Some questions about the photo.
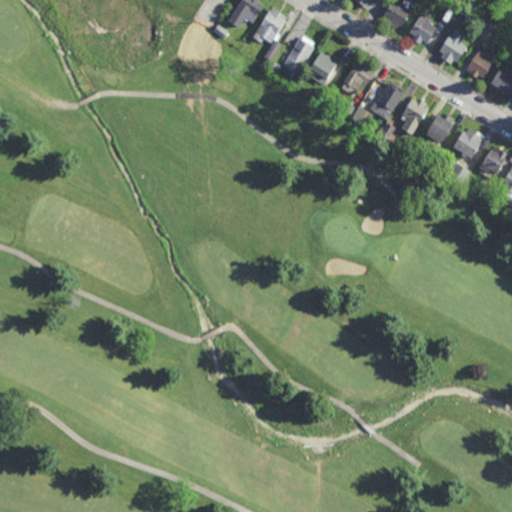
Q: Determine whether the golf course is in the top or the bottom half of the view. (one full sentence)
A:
The golf course is in the bottom half of the image.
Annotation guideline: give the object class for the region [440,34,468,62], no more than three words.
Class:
house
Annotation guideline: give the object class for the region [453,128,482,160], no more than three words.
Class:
house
